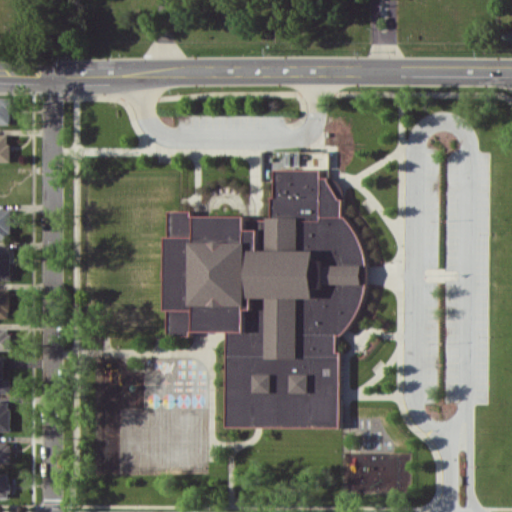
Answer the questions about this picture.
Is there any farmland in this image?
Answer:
No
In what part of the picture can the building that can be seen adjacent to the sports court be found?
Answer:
center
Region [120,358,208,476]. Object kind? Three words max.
sports court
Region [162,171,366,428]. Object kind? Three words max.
building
